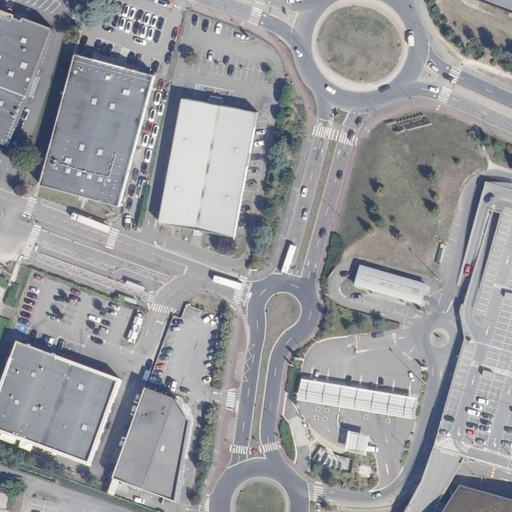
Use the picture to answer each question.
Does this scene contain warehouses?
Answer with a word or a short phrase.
Yes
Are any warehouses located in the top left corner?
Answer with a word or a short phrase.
Yes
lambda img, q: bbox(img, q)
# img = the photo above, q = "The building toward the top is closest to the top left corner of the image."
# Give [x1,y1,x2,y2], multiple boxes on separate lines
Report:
[0,10,56,148]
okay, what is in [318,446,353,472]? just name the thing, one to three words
building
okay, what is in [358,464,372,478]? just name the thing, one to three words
gazebo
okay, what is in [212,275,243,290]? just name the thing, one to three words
vehicle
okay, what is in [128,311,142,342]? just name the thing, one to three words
vehicle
